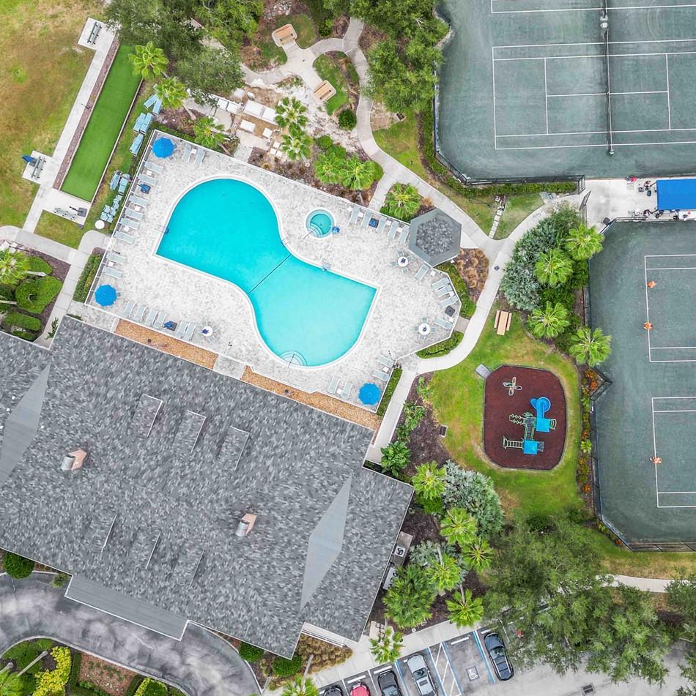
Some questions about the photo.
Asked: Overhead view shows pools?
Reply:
Yes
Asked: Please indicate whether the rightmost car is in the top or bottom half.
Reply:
bottom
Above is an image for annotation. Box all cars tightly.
[377,667,404,696]
[322,685,341,696]
[349,681,371,696]
[406,652,438,696]
[483,630,516,685]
